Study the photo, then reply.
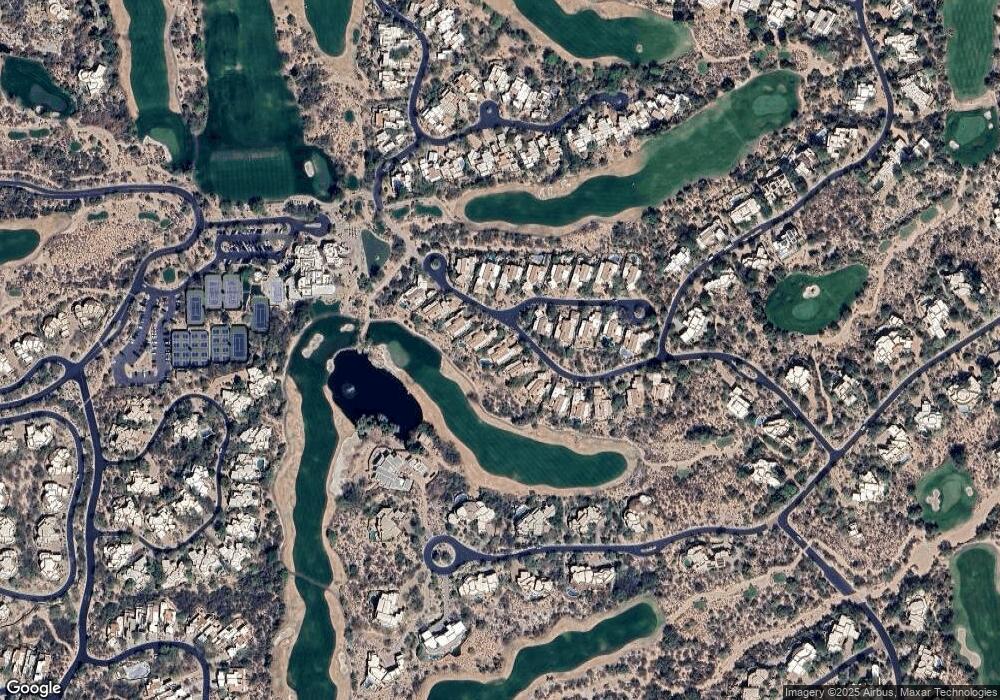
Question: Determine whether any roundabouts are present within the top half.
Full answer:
No, I see no roundabout within the top half.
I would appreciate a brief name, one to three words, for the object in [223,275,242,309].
tennis court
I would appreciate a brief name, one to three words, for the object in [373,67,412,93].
house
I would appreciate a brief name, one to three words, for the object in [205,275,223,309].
tennis court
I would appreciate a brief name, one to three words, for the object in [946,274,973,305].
house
